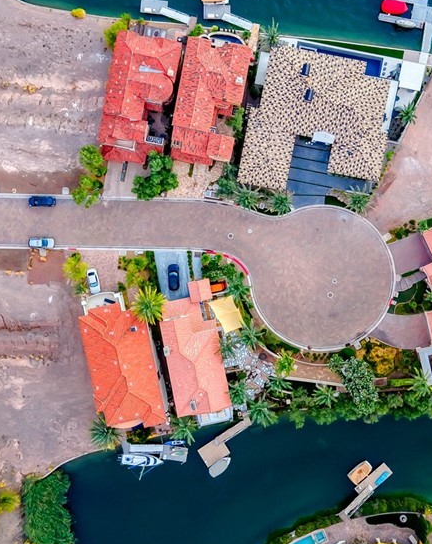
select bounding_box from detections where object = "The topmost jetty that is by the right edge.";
[379,0,432,63]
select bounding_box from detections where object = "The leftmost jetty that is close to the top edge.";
[140,0,197,36]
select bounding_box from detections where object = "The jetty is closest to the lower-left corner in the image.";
[121,441,188,462]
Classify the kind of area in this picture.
residential area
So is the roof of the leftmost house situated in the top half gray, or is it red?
red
